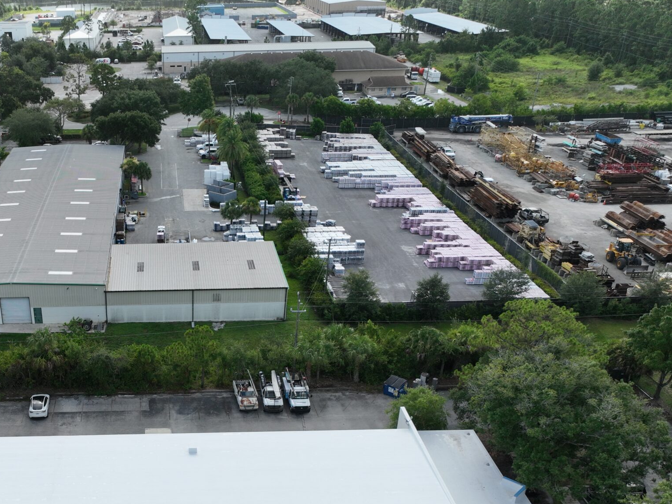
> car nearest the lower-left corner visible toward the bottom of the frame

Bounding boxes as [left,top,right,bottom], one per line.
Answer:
[26,394,48,419]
